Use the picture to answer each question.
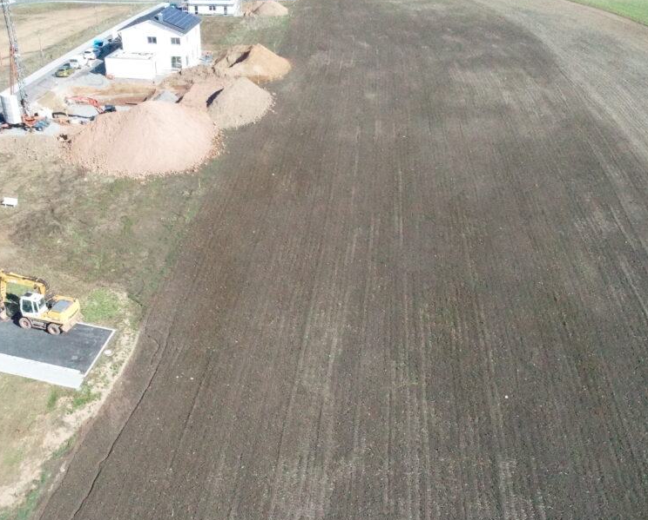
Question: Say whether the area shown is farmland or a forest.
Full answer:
It's farmland.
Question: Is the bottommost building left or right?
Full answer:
You can find the bottommost building on the left side of the picture.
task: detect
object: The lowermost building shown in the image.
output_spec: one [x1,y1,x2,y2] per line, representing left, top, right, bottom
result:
[103,47,169,76]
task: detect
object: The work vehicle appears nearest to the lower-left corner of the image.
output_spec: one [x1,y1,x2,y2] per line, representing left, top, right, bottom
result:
[0,269,85,335]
